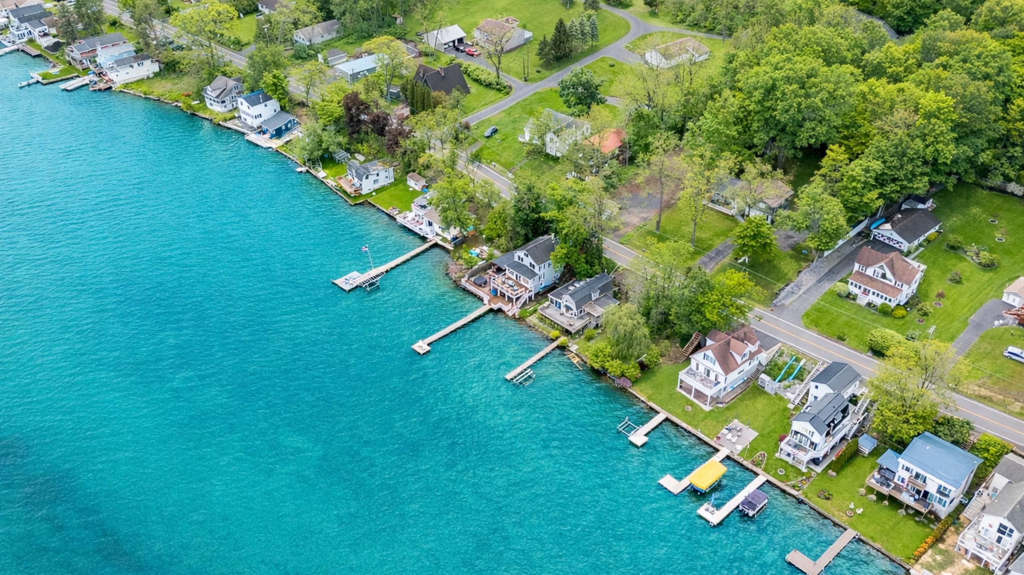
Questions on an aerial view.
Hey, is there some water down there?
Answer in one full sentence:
Yes, water can be seen from above here.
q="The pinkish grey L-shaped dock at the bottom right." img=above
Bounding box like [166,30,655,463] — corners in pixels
[784,531,854,575]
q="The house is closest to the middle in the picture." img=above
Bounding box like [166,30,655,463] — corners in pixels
[462,230,564,318]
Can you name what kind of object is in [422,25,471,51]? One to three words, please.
building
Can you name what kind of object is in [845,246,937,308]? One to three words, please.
house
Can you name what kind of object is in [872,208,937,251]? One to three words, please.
building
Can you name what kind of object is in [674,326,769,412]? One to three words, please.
house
